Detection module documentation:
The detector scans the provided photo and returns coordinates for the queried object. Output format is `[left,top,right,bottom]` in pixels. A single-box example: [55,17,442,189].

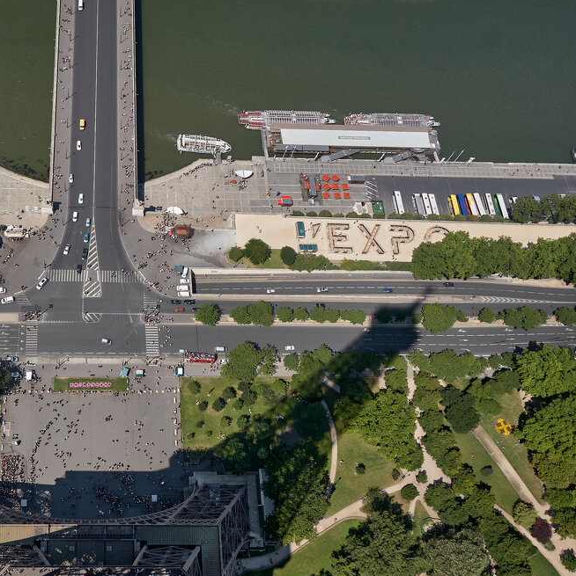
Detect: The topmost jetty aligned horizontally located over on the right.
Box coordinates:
[262,122,442,162]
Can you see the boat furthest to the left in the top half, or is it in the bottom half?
top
